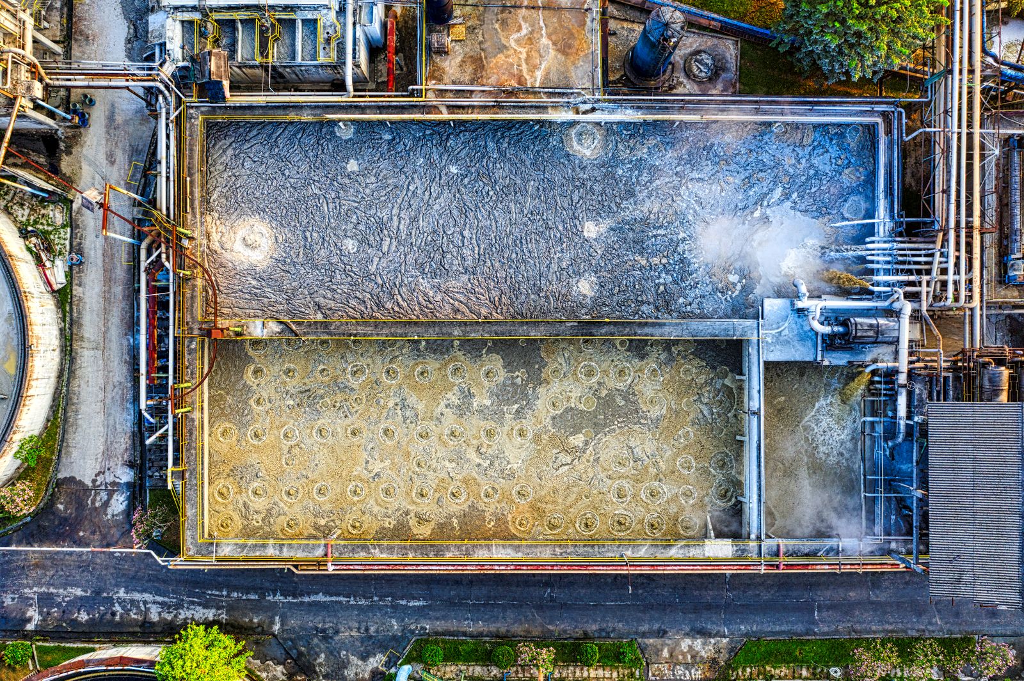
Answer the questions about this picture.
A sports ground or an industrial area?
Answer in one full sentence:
This looks like an industrial area.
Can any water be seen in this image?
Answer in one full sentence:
Yes, some water is visible.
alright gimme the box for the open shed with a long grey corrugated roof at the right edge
[886,400,1024,612]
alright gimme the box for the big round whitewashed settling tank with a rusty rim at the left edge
[0,210,61,487]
